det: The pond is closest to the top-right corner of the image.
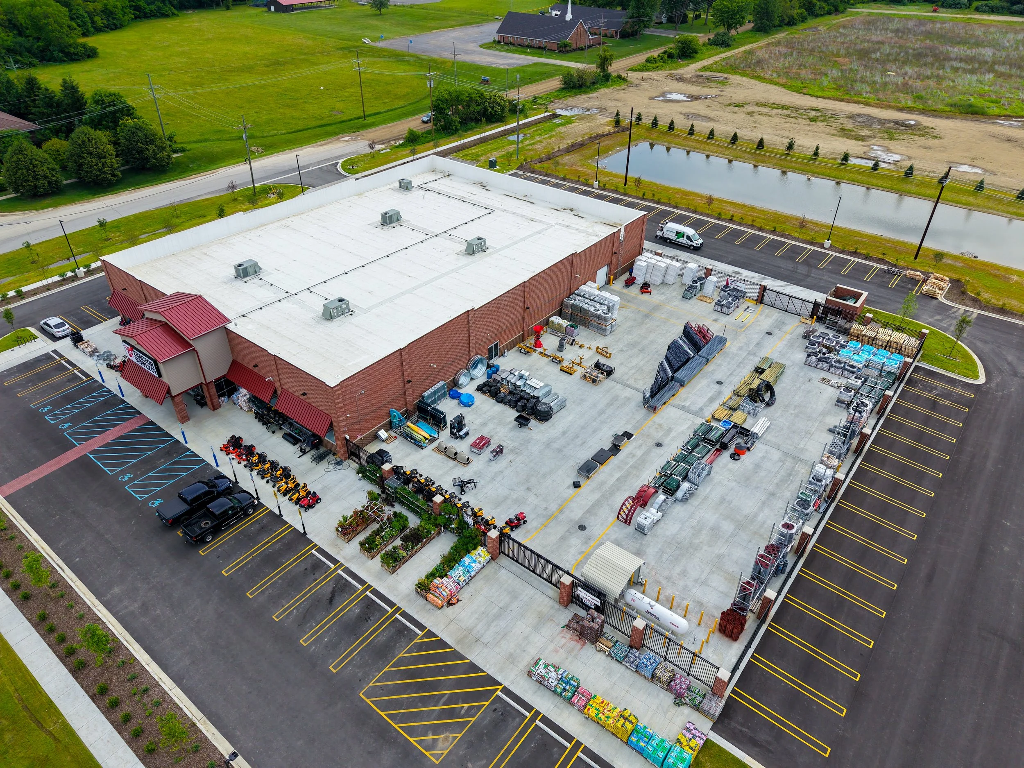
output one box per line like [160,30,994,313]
[600,143,1024,269]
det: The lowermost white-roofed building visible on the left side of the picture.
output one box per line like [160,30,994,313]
[104,154,643,461]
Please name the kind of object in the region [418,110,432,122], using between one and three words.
vehicle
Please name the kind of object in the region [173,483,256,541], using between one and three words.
truck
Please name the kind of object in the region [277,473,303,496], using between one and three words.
work vehicle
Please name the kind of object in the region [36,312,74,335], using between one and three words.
car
